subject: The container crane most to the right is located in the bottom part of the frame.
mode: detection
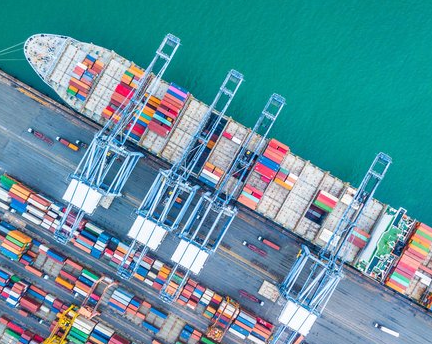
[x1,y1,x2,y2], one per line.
[275,155,395,344]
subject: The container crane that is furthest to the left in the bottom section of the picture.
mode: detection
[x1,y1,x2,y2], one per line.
[42,299,87,344]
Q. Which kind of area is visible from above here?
port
